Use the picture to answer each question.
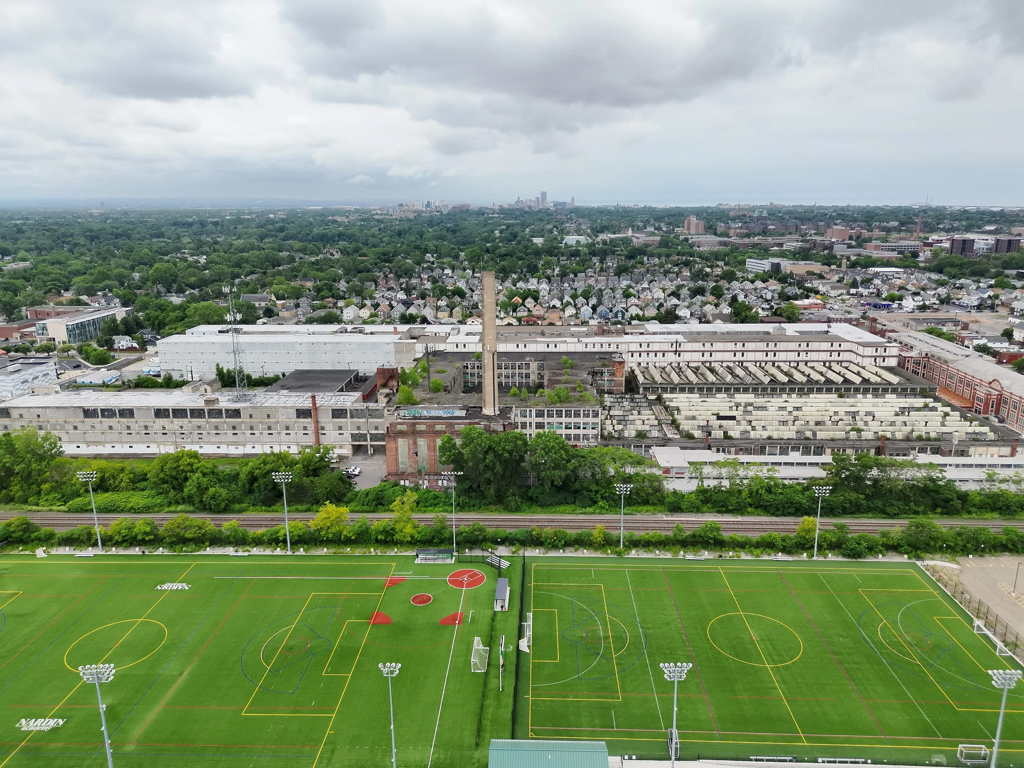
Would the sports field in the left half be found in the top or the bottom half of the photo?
bottom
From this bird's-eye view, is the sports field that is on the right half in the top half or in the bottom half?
bottom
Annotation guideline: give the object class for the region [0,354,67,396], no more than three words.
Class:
building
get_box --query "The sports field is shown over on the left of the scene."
[0,554,524,768]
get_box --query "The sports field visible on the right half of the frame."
[514,556,1024,768]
